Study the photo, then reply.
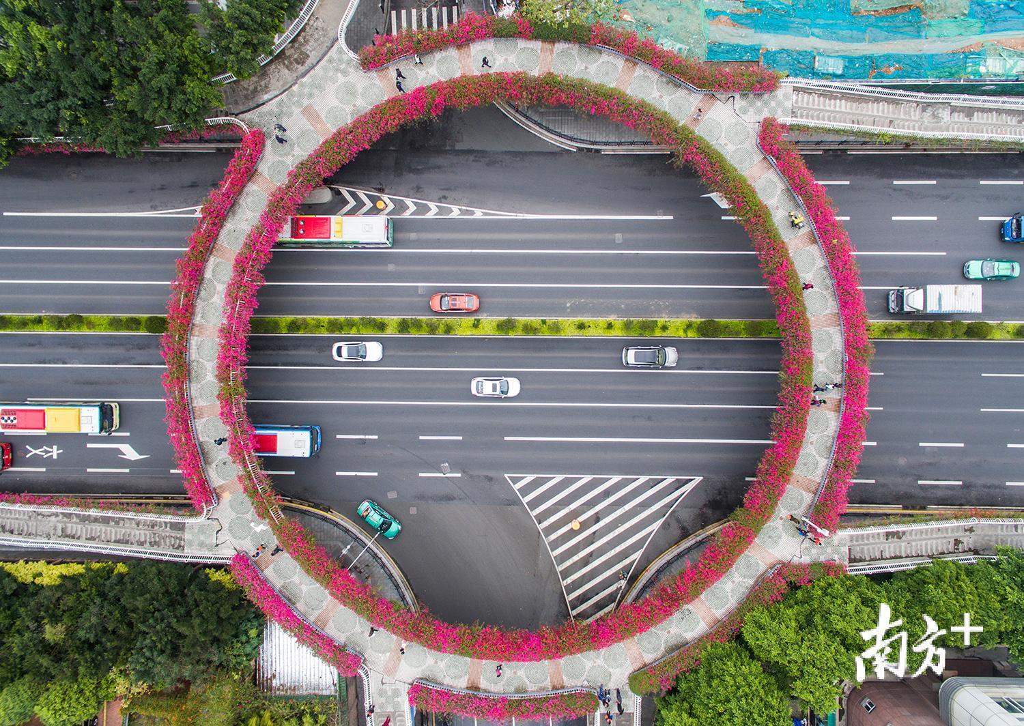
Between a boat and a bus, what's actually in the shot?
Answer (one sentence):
Of the two, only a bus appears.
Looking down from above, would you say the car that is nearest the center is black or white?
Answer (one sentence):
The color of the car that is nearest the center is white.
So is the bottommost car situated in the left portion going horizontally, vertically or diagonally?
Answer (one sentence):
I'd say the bottommost car situated in the left portion is aligned diagonally in the picture.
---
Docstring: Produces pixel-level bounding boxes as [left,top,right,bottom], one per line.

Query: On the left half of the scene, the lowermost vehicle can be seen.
[359,499,401,540]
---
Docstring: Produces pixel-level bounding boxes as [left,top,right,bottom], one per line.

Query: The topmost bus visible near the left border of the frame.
[0,401,116,436]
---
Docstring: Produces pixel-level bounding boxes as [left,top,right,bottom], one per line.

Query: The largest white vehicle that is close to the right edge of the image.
[883,282,985,316]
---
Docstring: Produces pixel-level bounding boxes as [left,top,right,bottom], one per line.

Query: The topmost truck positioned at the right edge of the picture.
[996,212,1024,247]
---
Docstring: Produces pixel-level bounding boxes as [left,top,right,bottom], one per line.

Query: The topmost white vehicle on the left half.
[279,211,393,244]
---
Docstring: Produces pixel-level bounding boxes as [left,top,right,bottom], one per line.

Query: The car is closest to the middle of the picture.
[471,376,520,399]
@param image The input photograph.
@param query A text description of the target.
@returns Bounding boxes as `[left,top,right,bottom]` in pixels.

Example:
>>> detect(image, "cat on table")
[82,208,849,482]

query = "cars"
[622,344,676,368]
[959,257,1017,281]
[0,446,13,466]
[332,340,383,363]
[471,376,520,399]
[359,499,401,540]
[431,291,479,314]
